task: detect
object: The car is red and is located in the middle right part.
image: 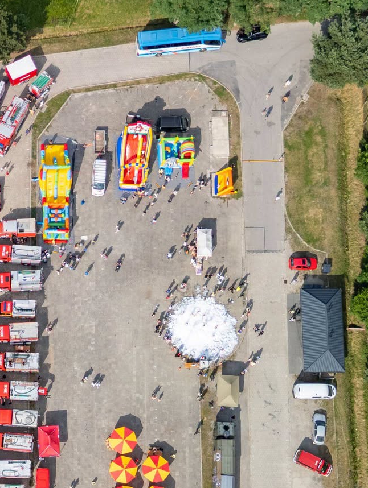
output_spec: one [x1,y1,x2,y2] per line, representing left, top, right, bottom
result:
[288,255,318,270]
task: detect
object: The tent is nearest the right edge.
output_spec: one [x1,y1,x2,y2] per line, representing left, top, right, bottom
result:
[214,375,240,408]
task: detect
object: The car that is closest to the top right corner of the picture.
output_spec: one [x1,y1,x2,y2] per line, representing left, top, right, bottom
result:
[236,25,268,44]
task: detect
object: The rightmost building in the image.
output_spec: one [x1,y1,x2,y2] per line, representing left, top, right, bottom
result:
[297,288,343,374]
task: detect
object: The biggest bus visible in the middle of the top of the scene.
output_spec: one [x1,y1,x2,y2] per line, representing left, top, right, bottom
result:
[136,25,228,58]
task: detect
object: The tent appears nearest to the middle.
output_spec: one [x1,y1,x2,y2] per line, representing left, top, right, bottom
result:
[195,229,212,260]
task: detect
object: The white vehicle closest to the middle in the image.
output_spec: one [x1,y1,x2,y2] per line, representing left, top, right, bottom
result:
[91,158,107,197]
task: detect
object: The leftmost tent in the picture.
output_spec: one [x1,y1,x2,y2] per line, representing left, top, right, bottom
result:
[38,425,60,456]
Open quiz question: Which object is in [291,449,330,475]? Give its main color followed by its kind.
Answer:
red vehicle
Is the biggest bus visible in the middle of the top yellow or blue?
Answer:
blue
